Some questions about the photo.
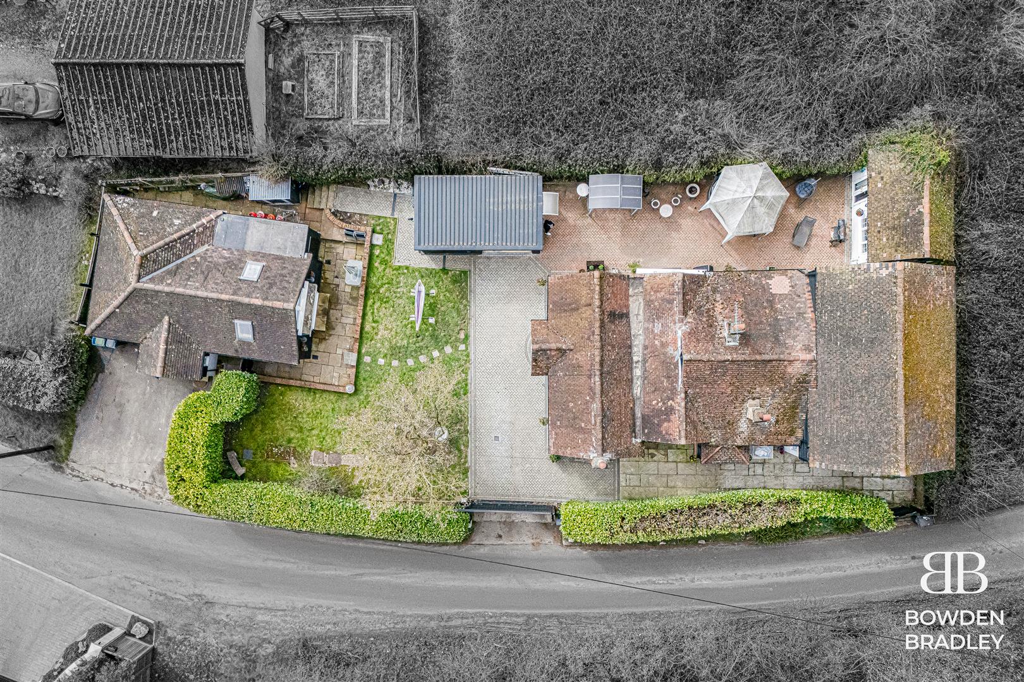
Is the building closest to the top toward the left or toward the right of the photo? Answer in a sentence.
It is on the left.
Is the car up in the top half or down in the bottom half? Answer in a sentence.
Seen from above, the car lies in the top half of the view.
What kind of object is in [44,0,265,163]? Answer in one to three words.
building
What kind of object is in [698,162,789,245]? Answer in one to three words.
gazebo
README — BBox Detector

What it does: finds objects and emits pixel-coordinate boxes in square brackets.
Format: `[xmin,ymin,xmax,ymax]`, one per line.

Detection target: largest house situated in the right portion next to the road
[531,263,957,476]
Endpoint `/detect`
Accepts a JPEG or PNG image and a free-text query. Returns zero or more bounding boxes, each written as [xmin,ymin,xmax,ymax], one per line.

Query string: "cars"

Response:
[0,78,61,125]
